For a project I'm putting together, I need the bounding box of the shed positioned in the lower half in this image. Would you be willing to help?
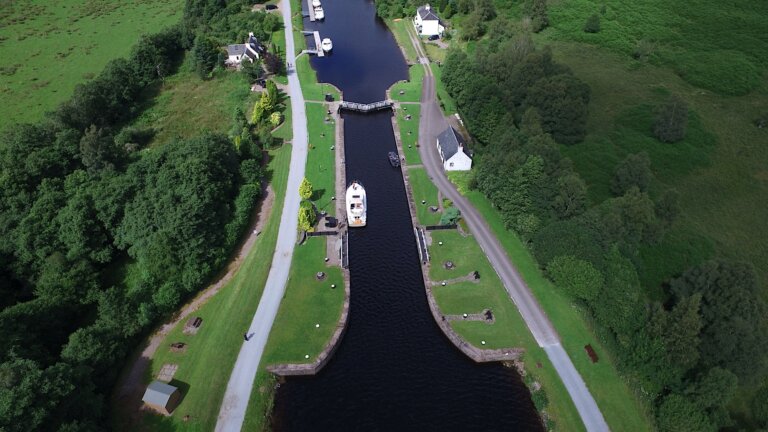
[139,378,184,415]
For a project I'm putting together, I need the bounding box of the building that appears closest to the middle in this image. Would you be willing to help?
[438,127,480,176]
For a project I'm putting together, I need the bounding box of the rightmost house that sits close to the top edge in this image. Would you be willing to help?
[416,0,448,35]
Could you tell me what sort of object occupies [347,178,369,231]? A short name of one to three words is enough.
boat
